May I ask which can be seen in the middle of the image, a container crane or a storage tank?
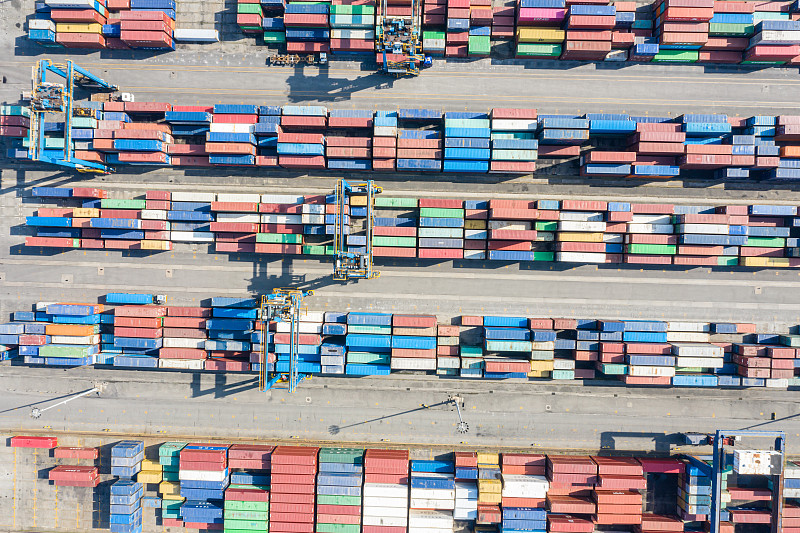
container crane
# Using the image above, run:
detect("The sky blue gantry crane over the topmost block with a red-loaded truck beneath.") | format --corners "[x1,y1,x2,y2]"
[377,0,422,81]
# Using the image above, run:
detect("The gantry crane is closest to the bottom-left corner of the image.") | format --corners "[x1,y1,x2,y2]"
[259,281,317,397]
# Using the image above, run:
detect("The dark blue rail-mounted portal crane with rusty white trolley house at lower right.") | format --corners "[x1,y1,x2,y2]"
[678,432,787,533]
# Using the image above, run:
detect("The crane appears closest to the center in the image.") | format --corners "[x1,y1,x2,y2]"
[335,176,385,284]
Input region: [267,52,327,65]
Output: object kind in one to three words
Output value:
vehicle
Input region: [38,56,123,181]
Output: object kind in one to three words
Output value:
container crane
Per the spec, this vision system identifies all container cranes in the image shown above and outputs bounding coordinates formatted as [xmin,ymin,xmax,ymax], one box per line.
[678,432,787,533]
[259,281,317,397]
[377,0,422,81]
[38,56,123,181]
[335,176,385,284]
